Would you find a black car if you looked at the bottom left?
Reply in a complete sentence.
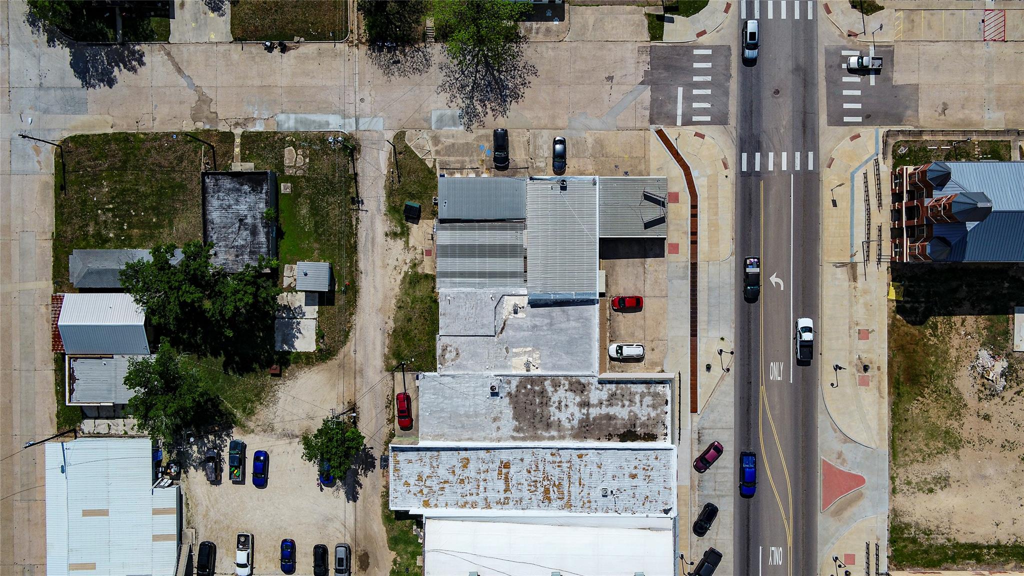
Yes, you'll find a black car at the bottom left.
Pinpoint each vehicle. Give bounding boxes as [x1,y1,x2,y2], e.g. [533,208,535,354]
[334,541,351,576]
[739,451,758,496]
[313,543,329,576]
[795,318,814,360]
[688,546,721,576]
[203,449,221,483]
[551,135,567,173]
[195,540,215,576]
[741,20,760,59]
[743,256,762,302]
[236,533,254,576]
[279,538,296,574]
[227,439,246,482]
[252,449,269,487]
[396,391,412,427]
[610,295,644,310]
[692,500,719,537]
[845,54,883,71]
[694,439,724,473]
[319,455,333,487]
[608,343,645,360]
[492,128,510,169]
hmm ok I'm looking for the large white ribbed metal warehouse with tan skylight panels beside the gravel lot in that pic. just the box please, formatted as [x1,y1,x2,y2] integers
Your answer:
[46,433,185,576]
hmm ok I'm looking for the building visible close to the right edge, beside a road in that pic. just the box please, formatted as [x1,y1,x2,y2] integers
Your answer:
[888,160,1024,270]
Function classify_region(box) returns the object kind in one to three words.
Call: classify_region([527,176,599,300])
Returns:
building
